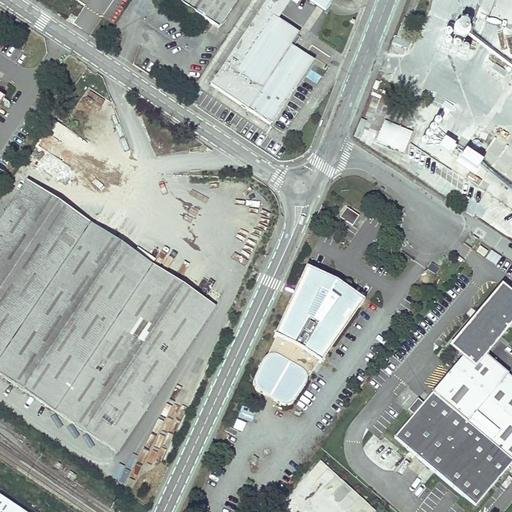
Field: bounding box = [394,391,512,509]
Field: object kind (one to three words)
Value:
building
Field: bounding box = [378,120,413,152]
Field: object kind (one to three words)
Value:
building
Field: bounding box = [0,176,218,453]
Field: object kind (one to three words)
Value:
warehouse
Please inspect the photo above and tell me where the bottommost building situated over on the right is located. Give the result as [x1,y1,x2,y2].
[290,460,378,512]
